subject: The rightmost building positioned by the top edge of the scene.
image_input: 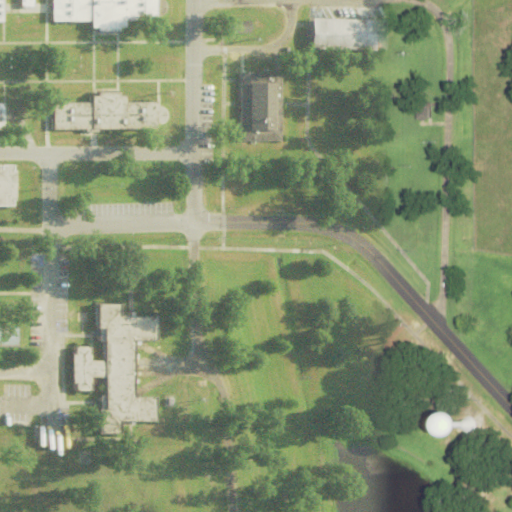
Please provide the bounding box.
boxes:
[314,18,381,50]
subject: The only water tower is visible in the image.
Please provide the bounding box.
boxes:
[430,416,478,444]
